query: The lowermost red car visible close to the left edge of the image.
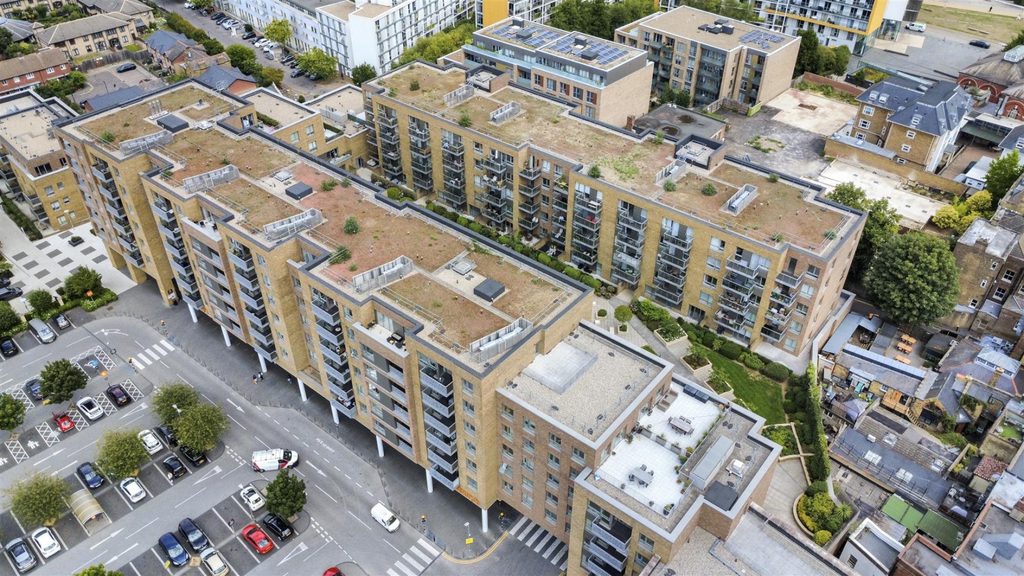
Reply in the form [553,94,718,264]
[50,409,77,434]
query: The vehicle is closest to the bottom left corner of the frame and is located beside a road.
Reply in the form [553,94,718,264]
[4,537,38,574]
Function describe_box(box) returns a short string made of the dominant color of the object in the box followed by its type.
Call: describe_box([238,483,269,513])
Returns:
white car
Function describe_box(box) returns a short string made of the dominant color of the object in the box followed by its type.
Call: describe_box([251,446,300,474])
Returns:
white van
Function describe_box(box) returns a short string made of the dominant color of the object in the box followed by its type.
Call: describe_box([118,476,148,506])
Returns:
white car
